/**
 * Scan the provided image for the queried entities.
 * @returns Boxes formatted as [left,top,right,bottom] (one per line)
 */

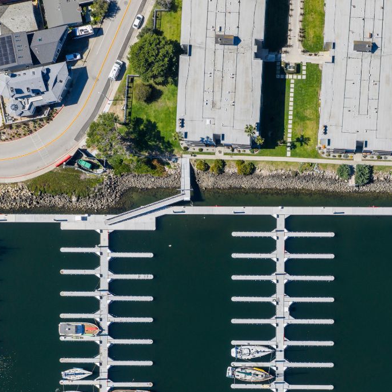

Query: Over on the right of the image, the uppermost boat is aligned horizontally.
[230,344,275,360]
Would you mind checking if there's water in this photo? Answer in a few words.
Yes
